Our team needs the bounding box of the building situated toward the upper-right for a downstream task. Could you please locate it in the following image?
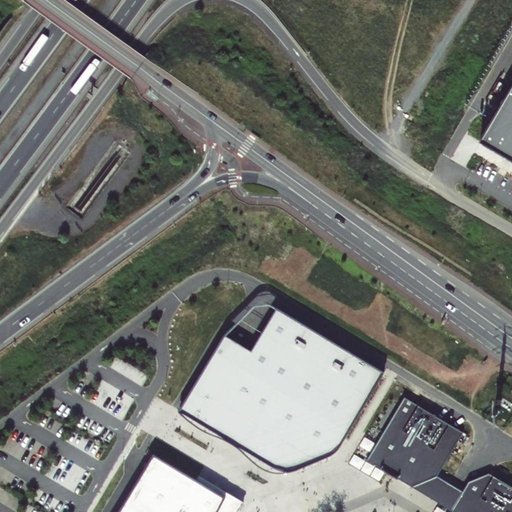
[481,86,512,162]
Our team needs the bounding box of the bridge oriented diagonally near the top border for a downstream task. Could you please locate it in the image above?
[21,0,151,84]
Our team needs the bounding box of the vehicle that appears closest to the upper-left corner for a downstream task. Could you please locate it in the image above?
[20,32,50,70]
